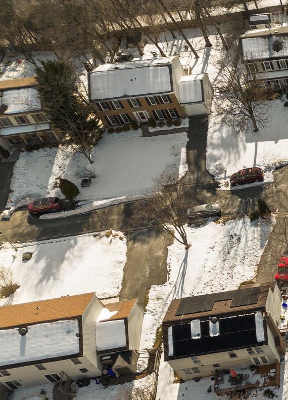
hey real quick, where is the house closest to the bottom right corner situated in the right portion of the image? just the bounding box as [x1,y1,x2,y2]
[163,282,286,380]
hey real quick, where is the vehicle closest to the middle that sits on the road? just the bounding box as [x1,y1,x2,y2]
[186,203,223,221]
